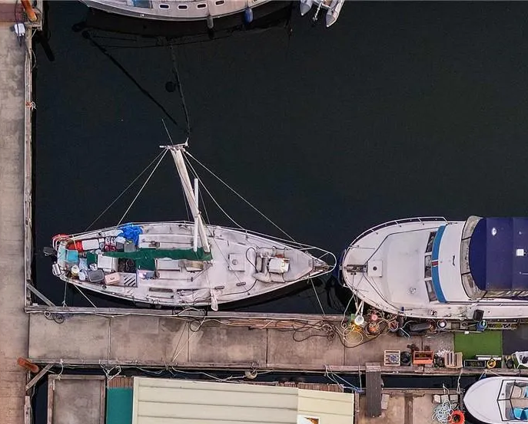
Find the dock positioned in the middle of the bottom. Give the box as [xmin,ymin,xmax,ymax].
[32,286,528,390]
